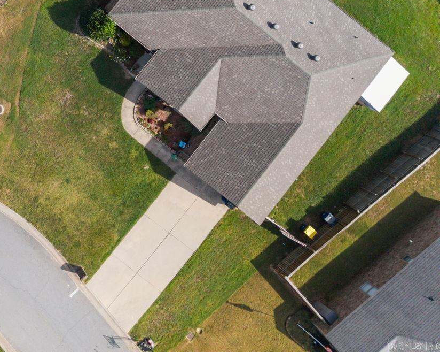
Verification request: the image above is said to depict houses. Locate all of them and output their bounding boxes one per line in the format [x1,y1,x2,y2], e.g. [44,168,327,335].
[312,209,440,352]
[108,0,394,226]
